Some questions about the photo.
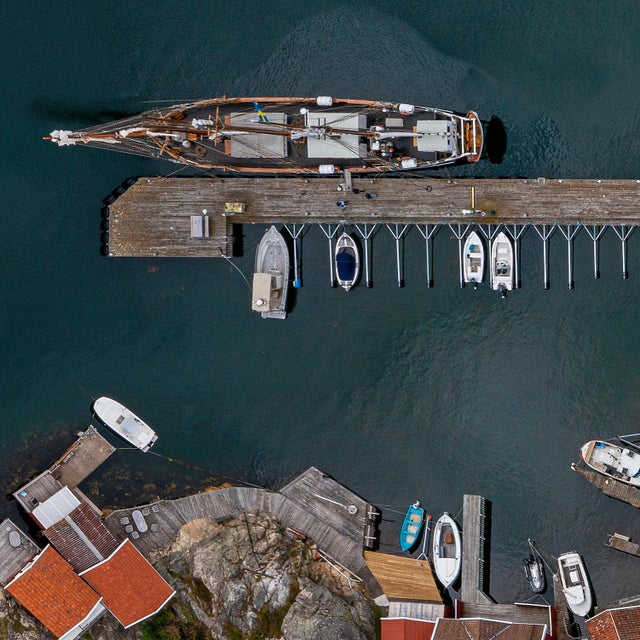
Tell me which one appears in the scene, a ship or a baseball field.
ship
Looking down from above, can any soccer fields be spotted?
No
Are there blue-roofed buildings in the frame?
No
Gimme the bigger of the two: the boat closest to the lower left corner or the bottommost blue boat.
the boat closest to the lower left corner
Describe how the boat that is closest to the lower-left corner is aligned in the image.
at an angle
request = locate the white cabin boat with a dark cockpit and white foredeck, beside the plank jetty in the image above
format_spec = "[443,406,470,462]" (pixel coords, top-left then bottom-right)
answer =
[558,549,593,618]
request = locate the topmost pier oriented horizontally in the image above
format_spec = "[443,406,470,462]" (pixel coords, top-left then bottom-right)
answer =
[109,178,640,257]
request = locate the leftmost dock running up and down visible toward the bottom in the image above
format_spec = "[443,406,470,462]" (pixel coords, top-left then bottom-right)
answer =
[459,495,496,604]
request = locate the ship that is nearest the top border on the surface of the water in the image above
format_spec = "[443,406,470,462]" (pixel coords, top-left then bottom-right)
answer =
[44,96,484,174]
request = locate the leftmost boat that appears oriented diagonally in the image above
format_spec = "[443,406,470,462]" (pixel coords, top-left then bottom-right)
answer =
[94,395,159,452]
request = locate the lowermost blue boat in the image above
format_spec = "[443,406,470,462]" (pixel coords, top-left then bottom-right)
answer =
[399,500,424,551]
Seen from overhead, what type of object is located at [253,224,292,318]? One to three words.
boat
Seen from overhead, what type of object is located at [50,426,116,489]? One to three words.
pier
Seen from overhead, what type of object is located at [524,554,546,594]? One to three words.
boat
